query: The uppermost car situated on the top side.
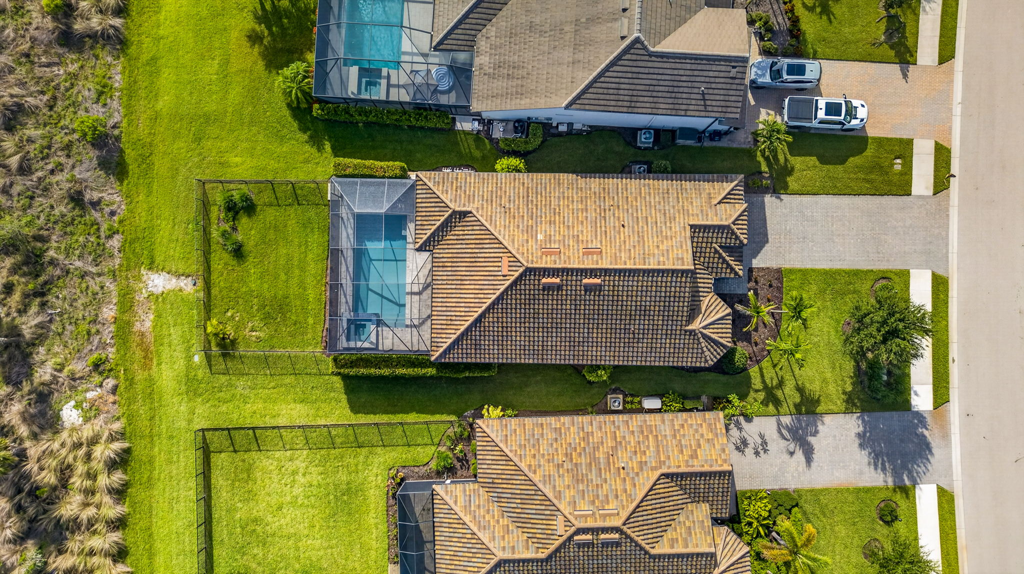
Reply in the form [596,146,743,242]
[749,55,821,92]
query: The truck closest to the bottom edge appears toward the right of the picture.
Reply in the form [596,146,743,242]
[778,93,869,132]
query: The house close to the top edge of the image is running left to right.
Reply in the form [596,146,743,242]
[430,0,753,133]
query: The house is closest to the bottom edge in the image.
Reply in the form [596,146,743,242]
[431,411,753,574]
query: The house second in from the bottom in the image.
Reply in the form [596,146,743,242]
[414,171,750,368]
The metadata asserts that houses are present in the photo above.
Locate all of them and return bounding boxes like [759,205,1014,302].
[414,171,750,368]
[430,0,753,133]
[431,411,753,574]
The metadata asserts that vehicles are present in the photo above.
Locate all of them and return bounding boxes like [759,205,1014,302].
[749,55,821,92]
[778,93,869,132]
